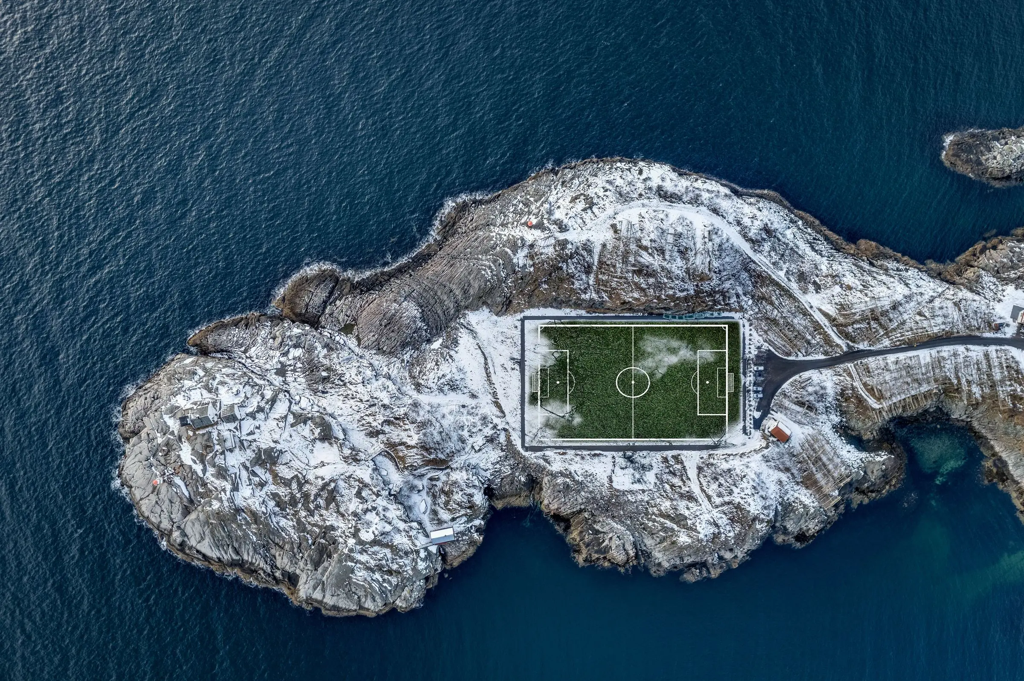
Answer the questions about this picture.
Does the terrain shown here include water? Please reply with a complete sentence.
Yes, some water is visible.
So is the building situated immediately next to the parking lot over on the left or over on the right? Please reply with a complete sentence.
The building situated immediately next to the parking lot appears in the right half of the scene.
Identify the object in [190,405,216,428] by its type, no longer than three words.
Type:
building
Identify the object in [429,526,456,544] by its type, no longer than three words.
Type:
building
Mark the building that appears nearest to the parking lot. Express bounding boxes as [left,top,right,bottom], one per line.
[767,419,791,442]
